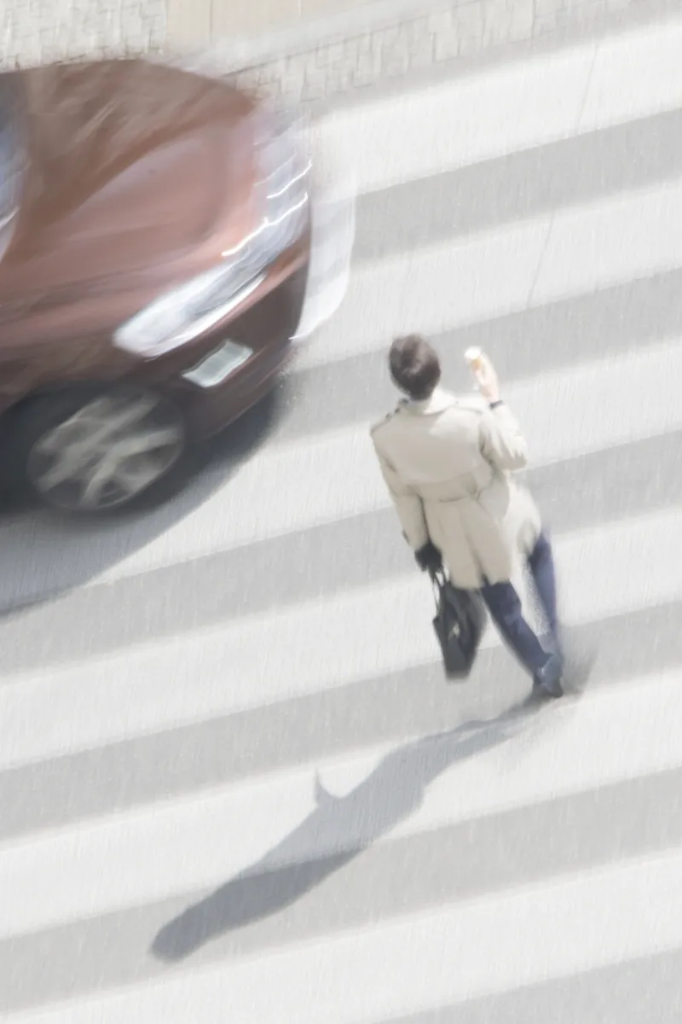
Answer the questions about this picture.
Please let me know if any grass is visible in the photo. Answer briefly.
No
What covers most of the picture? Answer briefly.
paved ground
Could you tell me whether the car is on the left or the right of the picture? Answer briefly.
left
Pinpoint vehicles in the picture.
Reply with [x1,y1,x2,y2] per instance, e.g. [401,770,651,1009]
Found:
[0,66,307,524]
